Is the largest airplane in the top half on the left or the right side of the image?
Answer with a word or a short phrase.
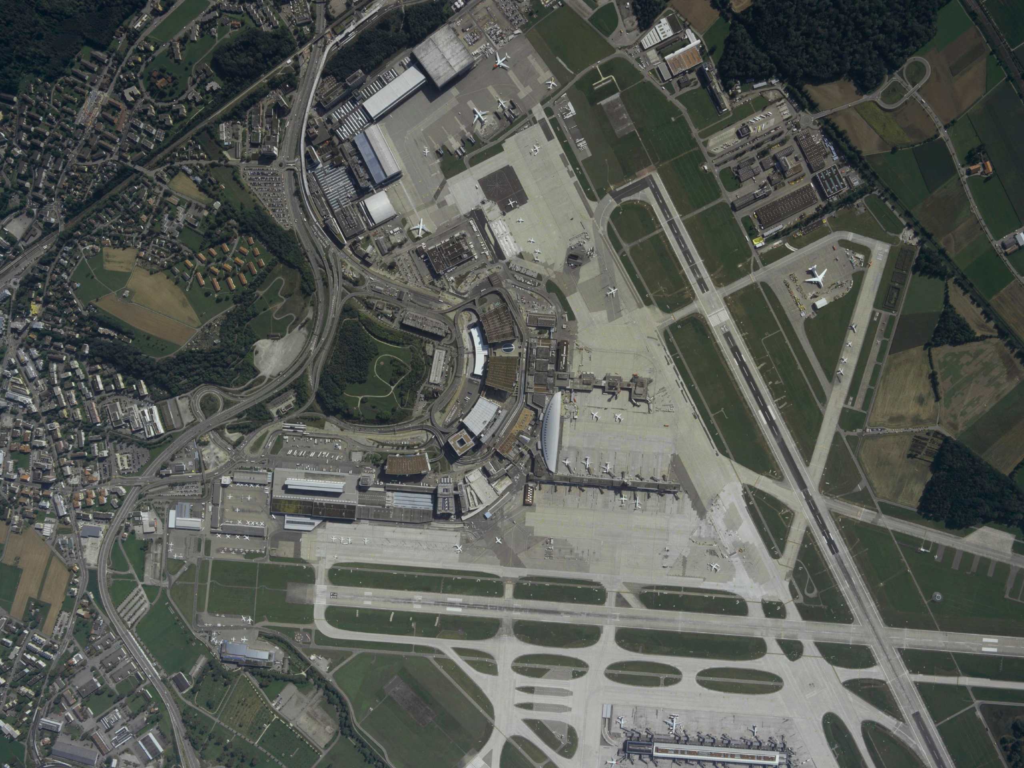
right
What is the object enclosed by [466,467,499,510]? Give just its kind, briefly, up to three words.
building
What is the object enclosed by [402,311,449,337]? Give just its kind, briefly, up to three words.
building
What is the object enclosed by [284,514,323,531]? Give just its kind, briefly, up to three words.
hangar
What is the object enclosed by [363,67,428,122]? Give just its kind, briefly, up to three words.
hangar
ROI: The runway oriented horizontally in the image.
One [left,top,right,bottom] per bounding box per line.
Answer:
[315,585,1024,657]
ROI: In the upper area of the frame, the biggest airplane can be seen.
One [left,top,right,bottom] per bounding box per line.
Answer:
[807,265,829,287]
